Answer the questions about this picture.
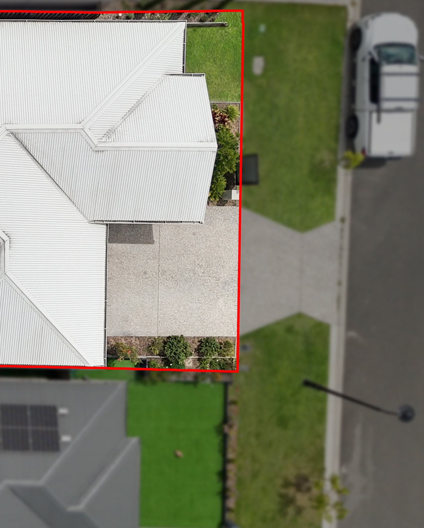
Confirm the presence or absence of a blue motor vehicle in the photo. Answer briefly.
No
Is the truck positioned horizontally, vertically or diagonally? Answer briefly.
vertically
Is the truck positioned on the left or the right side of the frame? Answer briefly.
right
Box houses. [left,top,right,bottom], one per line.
[0,19,218,369]
[0,376,142,528]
